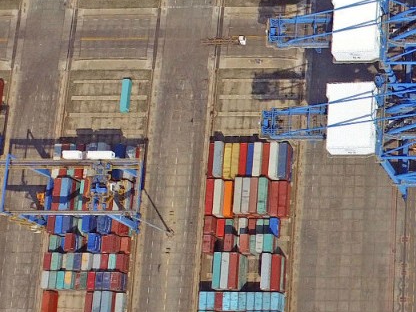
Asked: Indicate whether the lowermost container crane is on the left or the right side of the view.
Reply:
left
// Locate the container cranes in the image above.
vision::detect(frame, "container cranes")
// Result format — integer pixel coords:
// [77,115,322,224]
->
[260,73,416,202]
[0,143,146,233]
[266,0,416,108]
